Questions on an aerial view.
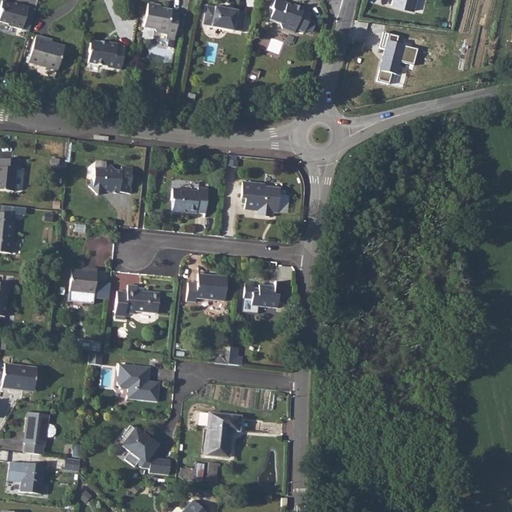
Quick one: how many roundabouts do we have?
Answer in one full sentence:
The picture shows 1 roundabout.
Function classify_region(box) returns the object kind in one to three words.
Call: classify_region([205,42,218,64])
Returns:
swimming pool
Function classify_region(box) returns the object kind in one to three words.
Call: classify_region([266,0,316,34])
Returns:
house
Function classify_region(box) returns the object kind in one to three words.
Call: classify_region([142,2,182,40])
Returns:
house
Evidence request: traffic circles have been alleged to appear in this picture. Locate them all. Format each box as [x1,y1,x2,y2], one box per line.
[292,108,348,162]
